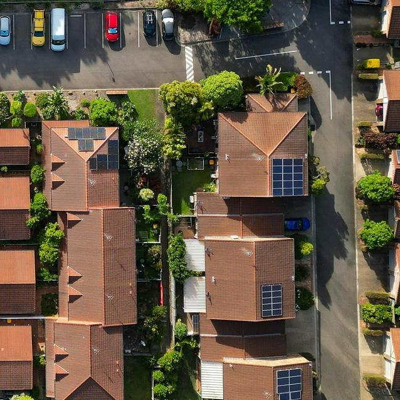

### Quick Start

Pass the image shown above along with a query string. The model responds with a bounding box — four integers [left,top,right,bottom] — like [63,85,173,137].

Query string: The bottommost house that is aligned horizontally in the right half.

[221,355,313,400]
